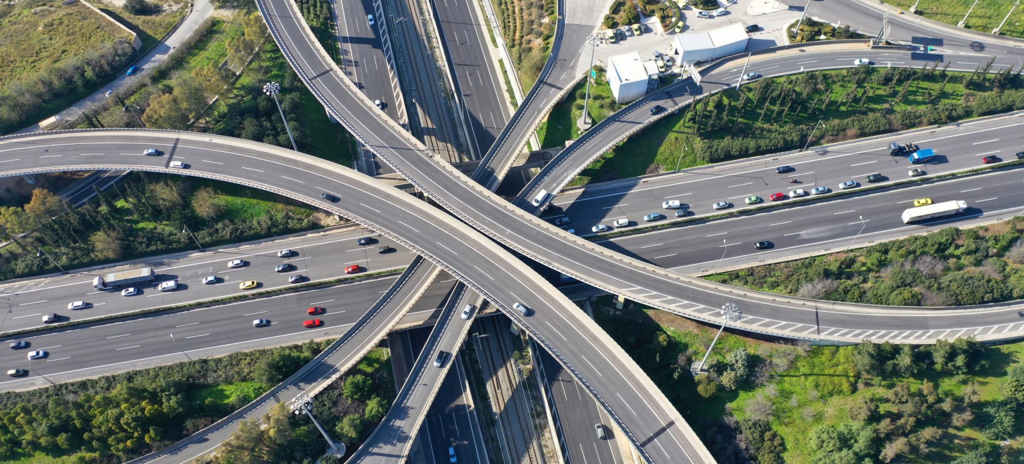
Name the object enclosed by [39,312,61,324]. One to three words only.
vehicle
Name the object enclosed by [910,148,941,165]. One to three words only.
vehicle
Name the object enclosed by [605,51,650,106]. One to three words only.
shed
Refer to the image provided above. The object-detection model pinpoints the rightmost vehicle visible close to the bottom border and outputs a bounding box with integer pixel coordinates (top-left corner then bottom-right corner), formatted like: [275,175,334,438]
[594,421,606,441]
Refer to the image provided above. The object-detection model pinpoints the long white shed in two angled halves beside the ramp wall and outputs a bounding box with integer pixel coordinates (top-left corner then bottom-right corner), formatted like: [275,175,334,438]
[674,22,750,67]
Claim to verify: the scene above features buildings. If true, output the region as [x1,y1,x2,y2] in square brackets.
[674,22,750,67]
[605,51,650,106]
